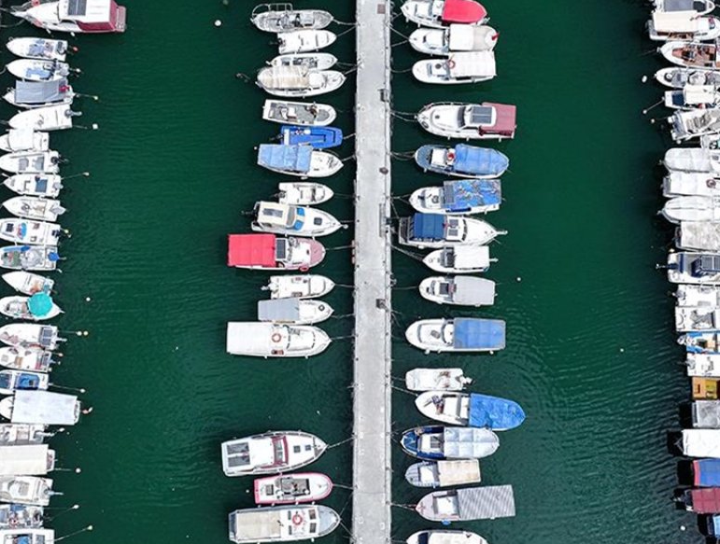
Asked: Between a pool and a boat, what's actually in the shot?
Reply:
boat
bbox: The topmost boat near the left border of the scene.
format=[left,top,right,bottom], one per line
[0,0,130,37]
